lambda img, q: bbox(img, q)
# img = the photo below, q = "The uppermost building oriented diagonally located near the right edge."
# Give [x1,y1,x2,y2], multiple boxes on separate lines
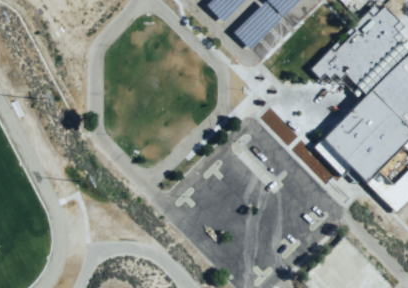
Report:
[310,7,402,85]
